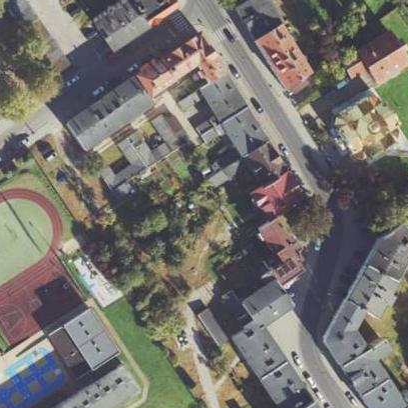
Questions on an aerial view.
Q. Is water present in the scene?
No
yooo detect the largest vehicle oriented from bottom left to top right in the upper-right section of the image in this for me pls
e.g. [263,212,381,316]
[333,77,350,91]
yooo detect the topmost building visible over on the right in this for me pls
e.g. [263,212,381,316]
[237,0,286,40]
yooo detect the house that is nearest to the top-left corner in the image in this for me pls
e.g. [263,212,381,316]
[93,0,152,54]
